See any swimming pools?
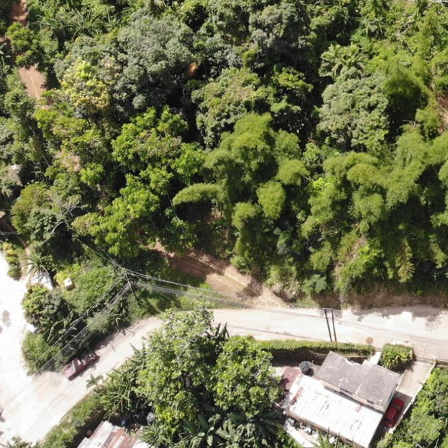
No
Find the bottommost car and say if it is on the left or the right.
right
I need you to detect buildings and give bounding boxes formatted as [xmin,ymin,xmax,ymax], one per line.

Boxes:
[83,421,154,448]
[287,351,400,448]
